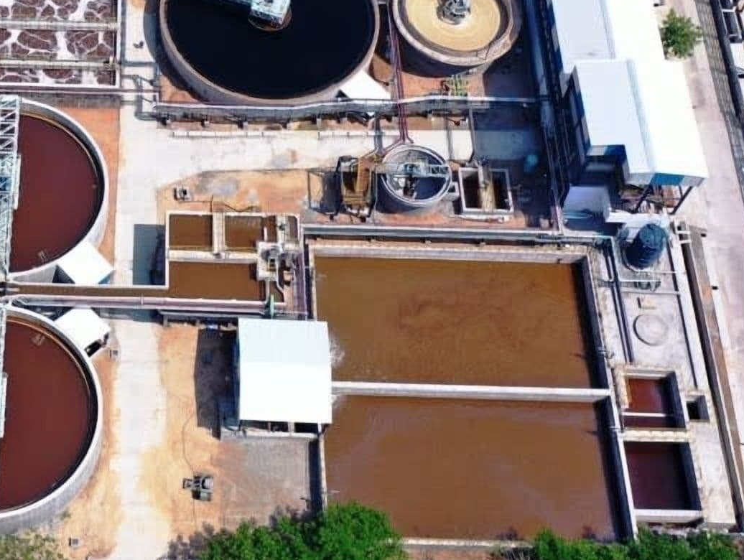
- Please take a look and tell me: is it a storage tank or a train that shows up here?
storage tank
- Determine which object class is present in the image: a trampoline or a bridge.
bridge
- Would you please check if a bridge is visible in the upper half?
Yes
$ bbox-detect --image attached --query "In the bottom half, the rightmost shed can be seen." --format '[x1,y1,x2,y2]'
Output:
[236,320,333,451]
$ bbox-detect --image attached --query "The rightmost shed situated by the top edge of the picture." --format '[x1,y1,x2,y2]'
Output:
[529,0,707,222]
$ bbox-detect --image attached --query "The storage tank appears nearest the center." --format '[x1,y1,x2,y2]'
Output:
[374,145,462,221]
